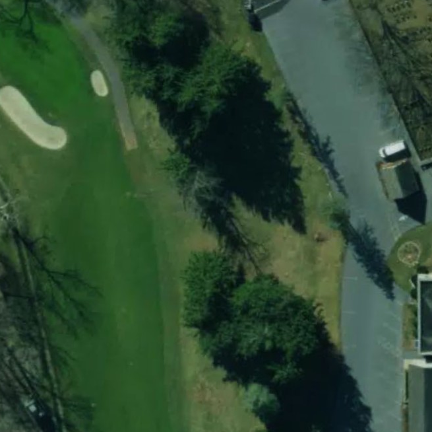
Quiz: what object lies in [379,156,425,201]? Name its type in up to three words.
shed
